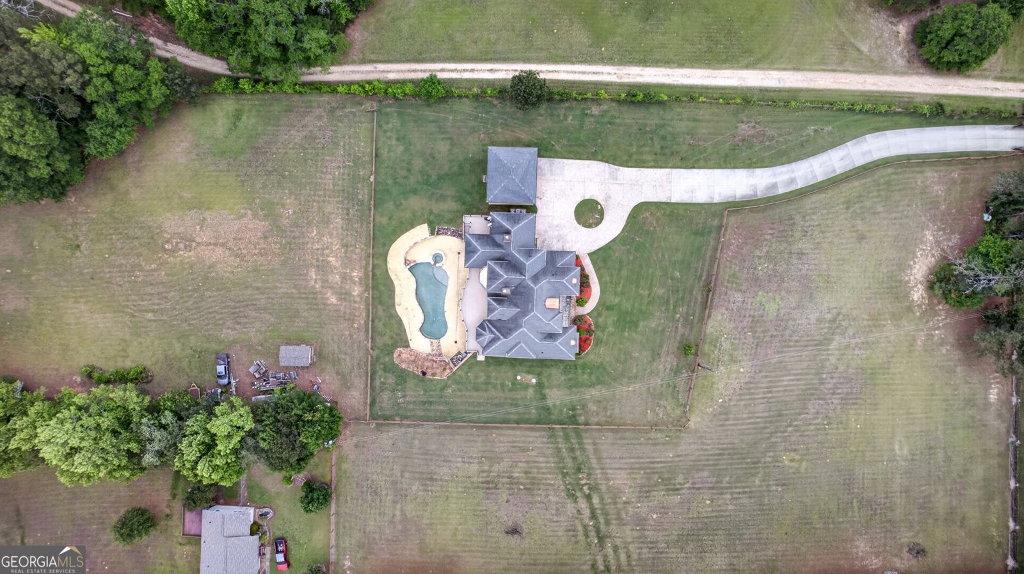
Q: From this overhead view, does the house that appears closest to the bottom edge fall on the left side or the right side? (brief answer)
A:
left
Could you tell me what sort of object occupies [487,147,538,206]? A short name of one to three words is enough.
building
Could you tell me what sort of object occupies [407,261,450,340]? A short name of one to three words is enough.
swimming pool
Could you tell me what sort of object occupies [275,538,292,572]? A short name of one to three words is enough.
vehicle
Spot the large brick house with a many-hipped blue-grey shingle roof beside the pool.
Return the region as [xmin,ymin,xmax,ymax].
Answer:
[465,212,581,360]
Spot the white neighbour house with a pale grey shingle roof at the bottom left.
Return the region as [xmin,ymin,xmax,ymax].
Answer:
[202,506,265,574]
